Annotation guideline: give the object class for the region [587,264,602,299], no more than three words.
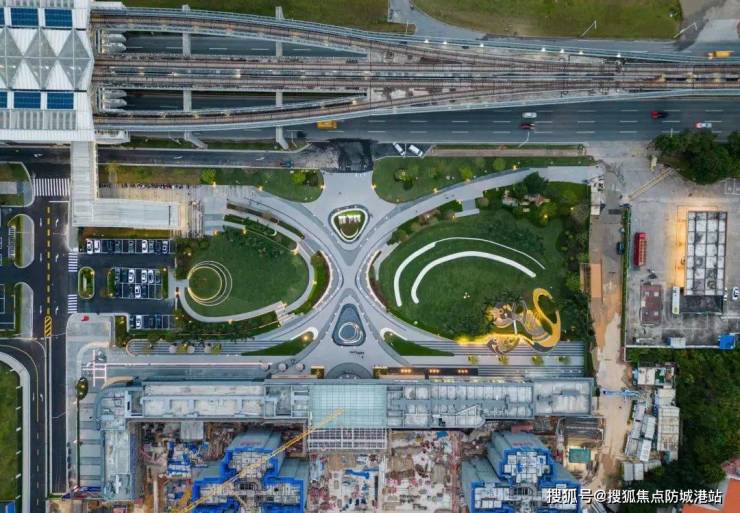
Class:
shed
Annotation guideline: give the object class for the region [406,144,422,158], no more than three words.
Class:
vehicle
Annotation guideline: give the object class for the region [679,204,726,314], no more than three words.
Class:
building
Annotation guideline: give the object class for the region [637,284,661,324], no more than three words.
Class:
shed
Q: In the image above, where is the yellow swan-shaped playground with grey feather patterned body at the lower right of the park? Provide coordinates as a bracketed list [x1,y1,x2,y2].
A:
[454,288,561,354]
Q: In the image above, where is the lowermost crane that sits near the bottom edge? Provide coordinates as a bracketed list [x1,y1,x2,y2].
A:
[166,408,344,513]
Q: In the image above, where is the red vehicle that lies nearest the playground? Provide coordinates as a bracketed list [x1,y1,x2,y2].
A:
[631,233,644,267]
